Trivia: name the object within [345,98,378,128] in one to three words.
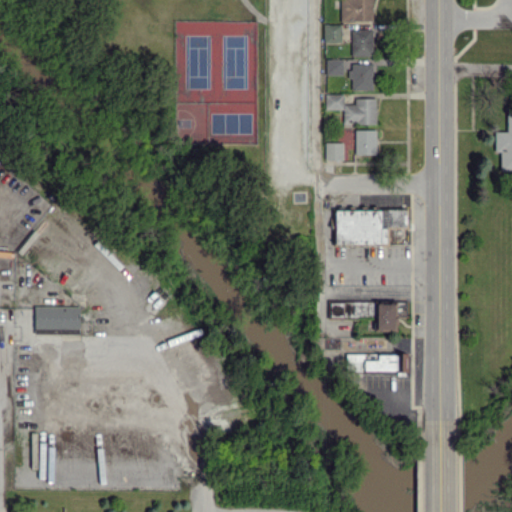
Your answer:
house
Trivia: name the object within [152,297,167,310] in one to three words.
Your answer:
vehicle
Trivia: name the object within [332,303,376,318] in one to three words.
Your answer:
building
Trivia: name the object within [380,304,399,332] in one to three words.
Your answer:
building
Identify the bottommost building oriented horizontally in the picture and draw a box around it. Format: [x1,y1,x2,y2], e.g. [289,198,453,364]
[347,354,400,374]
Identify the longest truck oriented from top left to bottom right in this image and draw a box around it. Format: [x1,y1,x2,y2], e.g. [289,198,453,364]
[96,244,124,272]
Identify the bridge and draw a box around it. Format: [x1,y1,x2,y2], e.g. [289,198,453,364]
[418,422,464,512]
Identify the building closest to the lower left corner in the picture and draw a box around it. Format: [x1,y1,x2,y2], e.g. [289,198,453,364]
[34,306,82,334]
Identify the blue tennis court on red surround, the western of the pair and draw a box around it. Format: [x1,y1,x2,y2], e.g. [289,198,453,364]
[176,22,217,102]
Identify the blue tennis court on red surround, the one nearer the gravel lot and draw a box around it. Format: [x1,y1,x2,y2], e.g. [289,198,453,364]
[217,22,258,102]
